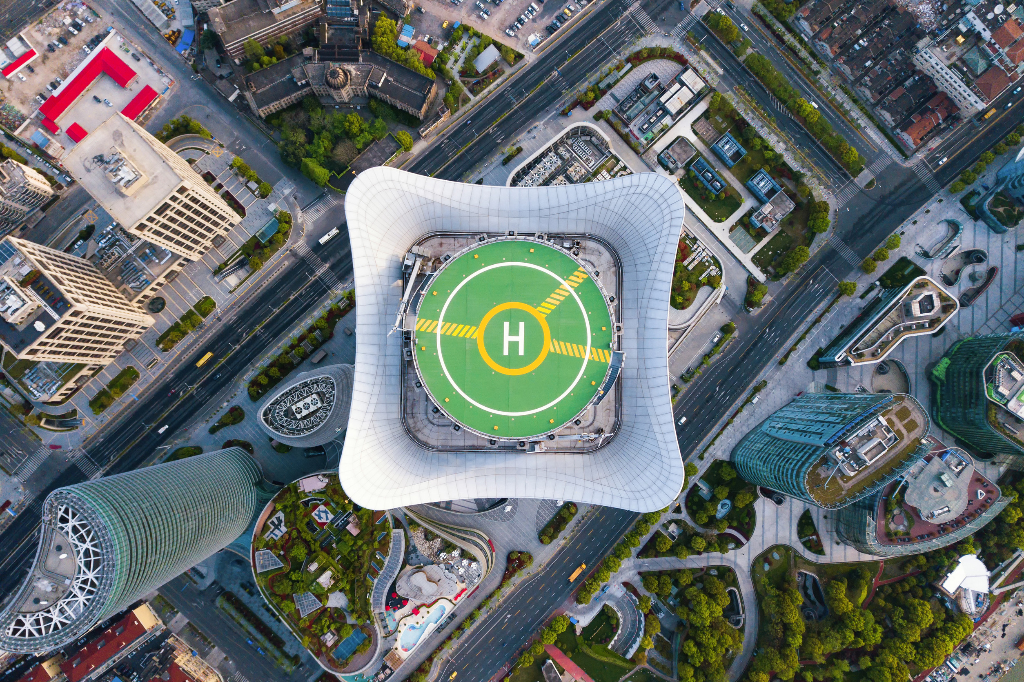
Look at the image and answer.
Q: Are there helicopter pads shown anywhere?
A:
Yes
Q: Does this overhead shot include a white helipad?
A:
No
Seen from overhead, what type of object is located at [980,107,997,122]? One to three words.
vehicle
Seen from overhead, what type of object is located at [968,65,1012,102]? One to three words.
house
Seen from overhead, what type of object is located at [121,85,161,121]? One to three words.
building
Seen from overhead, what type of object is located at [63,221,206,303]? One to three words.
building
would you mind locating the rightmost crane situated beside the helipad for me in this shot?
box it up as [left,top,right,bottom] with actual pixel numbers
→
[526,428,613,450]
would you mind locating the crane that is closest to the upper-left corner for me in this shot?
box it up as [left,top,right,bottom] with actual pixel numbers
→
[387,246,434,337]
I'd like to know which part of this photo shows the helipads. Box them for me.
[414,240,613,437]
